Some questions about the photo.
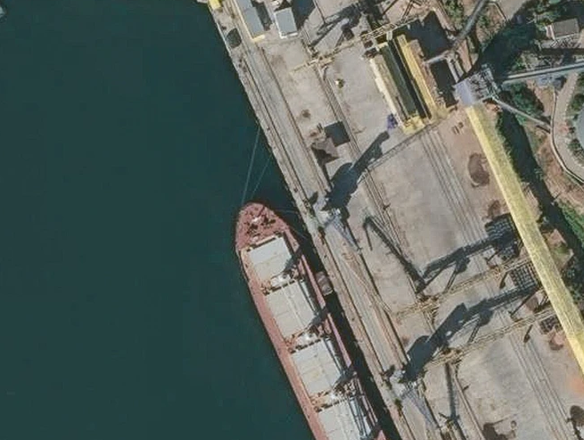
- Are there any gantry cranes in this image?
Yes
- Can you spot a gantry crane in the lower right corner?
Yes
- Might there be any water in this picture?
Yes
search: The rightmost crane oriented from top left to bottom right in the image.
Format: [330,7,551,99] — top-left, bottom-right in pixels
[379,360,440,430]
